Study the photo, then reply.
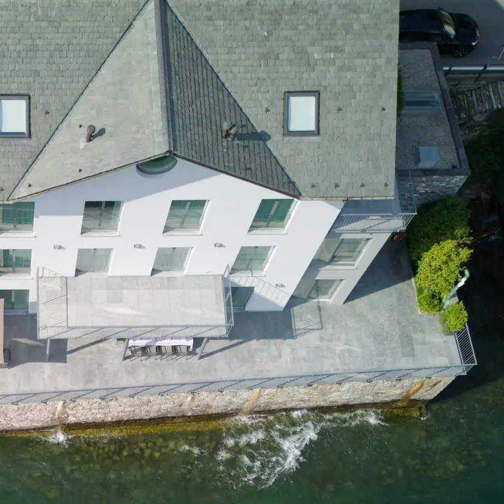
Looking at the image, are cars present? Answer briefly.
Yes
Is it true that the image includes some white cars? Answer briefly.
No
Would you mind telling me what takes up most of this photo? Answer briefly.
buildings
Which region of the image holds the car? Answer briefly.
top right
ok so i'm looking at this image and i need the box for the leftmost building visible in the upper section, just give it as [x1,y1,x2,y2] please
[0,0,415,363]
